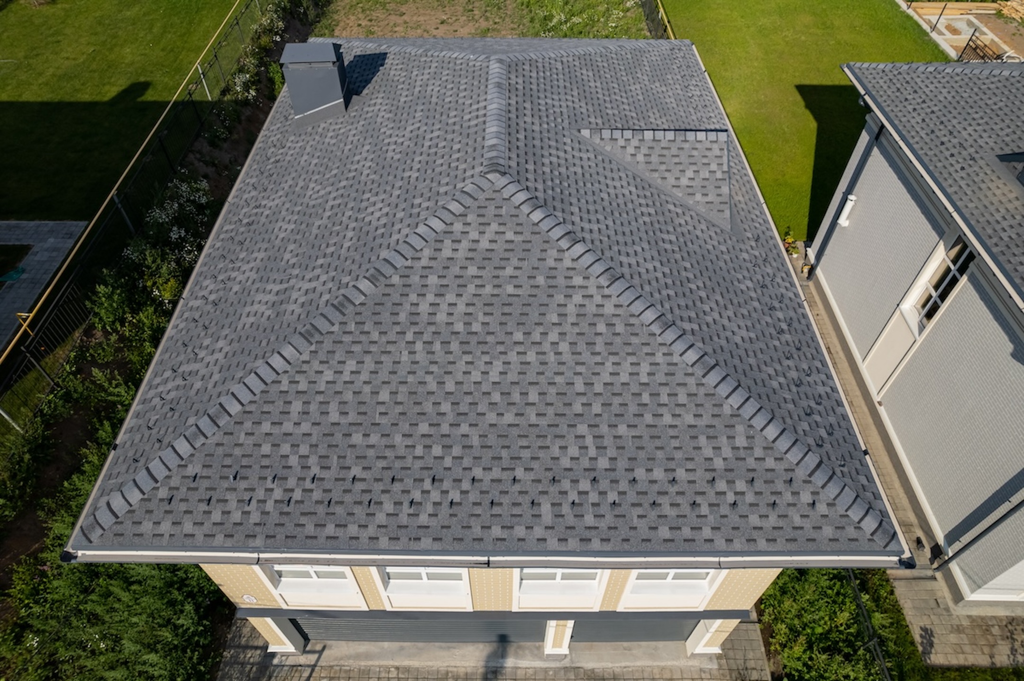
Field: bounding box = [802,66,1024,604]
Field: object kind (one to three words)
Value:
house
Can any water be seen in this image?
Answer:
No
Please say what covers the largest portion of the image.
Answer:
buildings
